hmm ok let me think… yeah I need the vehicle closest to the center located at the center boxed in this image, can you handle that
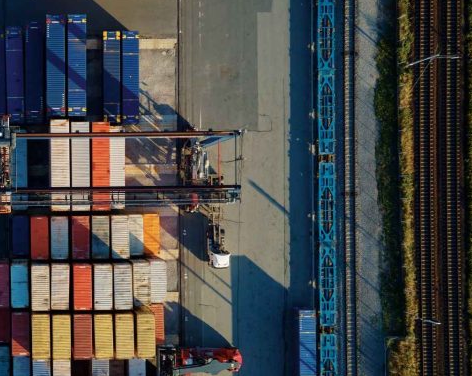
[206,174,229,271]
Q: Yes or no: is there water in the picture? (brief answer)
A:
No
